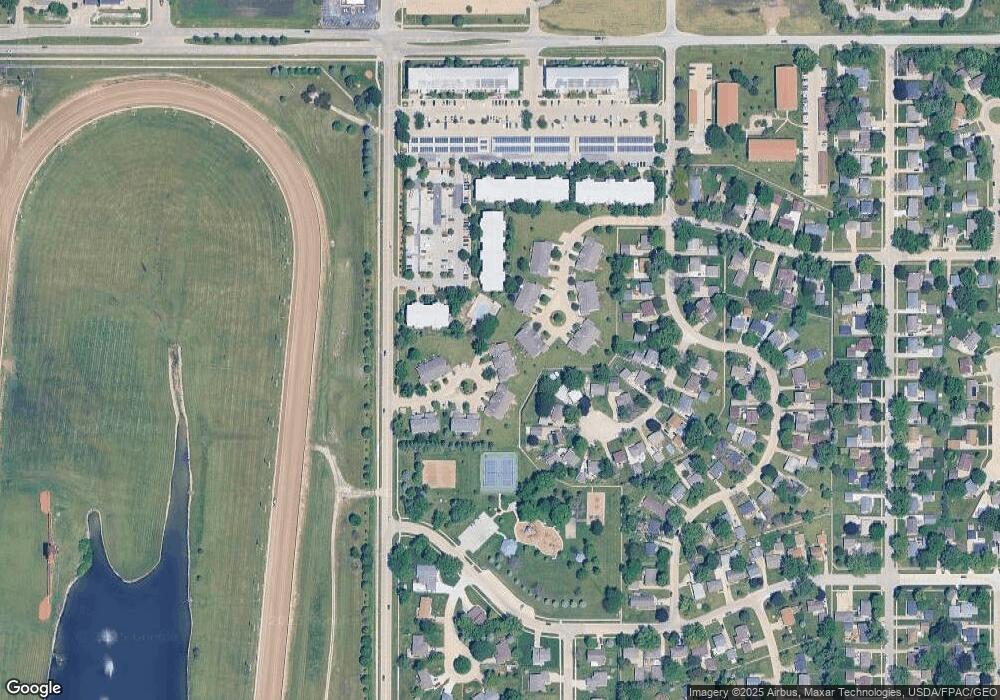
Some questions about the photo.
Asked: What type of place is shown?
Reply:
sports ground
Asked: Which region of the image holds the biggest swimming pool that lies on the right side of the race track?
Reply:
center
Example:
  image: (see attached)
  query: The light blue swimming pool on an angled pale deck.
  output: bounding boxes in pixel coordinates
[468,294,500,328]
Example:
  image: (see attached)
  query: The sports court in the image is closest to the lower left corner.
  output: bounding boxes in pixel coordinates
[422,459,457,488]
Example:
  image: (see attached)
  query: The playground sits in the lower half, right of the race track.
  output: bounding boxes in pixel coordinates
[514,520,563,559]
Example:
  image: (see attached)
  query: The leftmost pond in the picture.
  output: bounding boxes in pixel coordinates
[44,418,190,700]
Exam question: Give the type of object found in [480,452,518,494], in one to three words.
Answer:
tennis court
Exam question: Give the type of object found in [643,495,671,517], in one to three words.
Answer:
house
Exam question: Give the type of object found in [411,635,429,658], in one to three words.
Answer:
house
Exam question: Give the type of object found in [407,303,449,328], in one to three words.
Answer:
building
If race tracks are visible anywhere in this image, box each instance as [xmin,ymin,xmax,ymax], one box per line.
[0,74,329,700]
